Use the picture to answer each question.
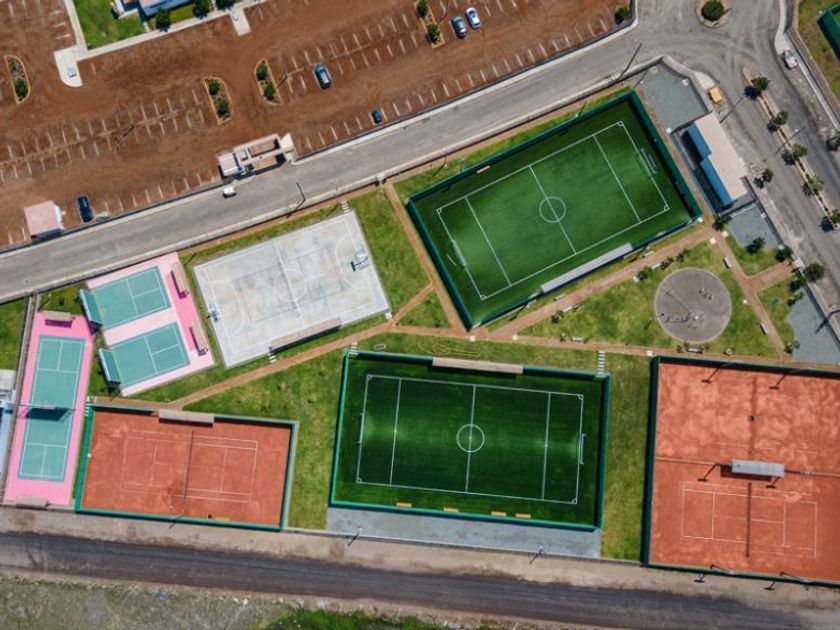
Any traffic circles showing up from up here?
No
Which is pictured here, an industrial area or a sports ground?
sports ground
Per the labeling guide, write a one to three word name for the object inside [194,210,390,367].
sports court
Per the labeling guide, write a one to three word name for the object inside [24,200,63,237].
building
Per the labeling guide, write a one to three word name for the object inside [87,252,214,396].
sports court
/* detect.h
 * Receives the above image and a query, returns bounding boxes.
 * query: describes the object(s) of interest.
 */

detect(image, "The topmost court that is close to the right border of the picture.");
[660,364,840,475]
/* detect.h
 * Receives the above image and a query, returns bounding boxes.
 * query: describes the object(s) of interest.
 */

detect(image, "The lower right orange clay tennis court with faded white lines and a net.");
[655,459,840,582]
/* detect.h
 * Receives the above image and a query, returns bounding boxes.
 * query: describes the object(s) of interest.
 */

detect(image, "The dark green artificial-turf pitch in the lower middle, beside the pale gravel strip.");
[335,354,605,526]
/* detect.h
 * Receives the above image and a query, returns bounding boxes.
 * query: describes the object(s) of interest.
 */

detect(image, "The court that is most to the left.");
[2,313,94,508]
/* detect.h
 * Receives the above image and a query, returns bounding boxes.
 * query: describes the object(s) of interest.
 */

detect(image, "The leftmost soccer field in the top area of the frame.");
[413,98,694,326]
